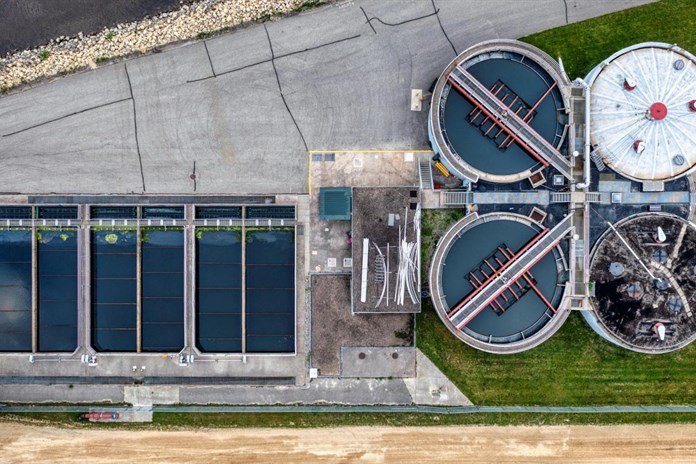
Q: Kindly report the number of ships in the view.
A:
0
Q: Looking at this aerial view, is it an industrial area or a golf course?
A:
industrial area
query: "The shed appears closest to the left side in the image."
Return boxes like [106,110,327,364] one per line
[320,187,351,220]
